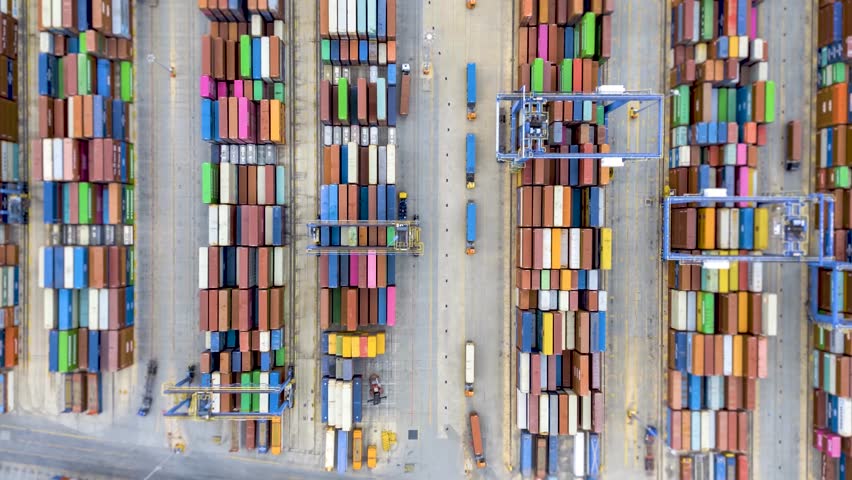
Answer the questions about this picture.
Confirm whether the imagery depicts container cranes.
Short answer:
Yes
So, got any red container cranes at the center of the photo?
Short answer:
No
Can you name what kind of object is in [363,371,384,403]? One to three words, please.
vehicle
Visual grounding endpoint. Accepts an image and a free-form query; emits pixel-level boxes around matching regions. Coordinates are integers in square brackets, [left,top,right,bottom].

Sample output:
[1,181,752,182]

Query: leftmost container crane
[0,181,27,221]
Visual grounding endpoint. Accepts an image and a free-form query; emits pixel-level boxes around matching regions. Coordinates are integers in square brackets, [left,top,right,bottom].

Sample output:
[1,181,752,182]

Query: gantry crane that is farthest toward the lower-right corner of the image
[808,250,852,326]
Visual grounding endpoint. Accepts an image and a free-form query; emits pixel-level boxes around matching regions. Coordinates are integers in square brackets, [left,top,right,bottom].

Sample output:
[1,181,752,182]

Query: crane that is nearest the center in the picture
[305,217,426,257]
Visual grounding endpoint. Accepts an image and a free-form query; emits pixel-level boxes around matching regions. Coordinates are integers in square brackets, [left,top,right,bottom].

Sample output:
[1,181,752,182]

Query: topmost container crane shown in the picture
[495,82,662,175]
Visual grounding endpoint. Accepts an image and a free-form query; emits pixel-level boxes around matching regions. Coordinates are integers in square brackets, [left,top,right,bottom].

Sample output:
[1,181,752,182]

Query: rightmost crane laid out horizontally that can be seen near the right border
[660,186,832,270]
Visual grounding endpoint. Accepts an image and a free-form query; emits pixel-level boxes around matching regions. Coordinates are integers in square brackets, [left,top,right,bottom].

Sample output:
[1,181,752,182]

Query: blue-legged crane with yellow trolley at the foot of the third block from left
[159,365,295,418]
